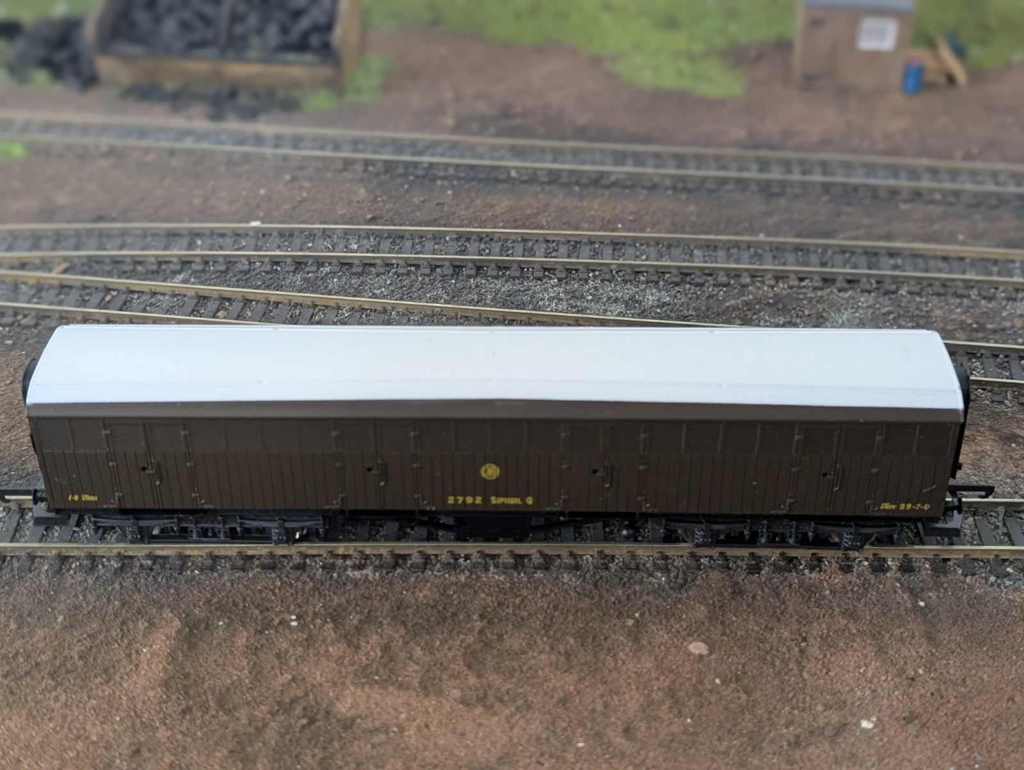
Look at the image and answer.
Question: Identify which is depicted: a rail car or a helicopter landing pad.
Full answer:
Visible in the photo is a rail car.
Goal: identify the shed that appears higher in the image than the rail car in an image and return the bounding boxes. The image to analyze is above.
[792,0,921,91]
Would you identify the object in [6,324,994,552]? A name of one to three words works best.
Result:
rail car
